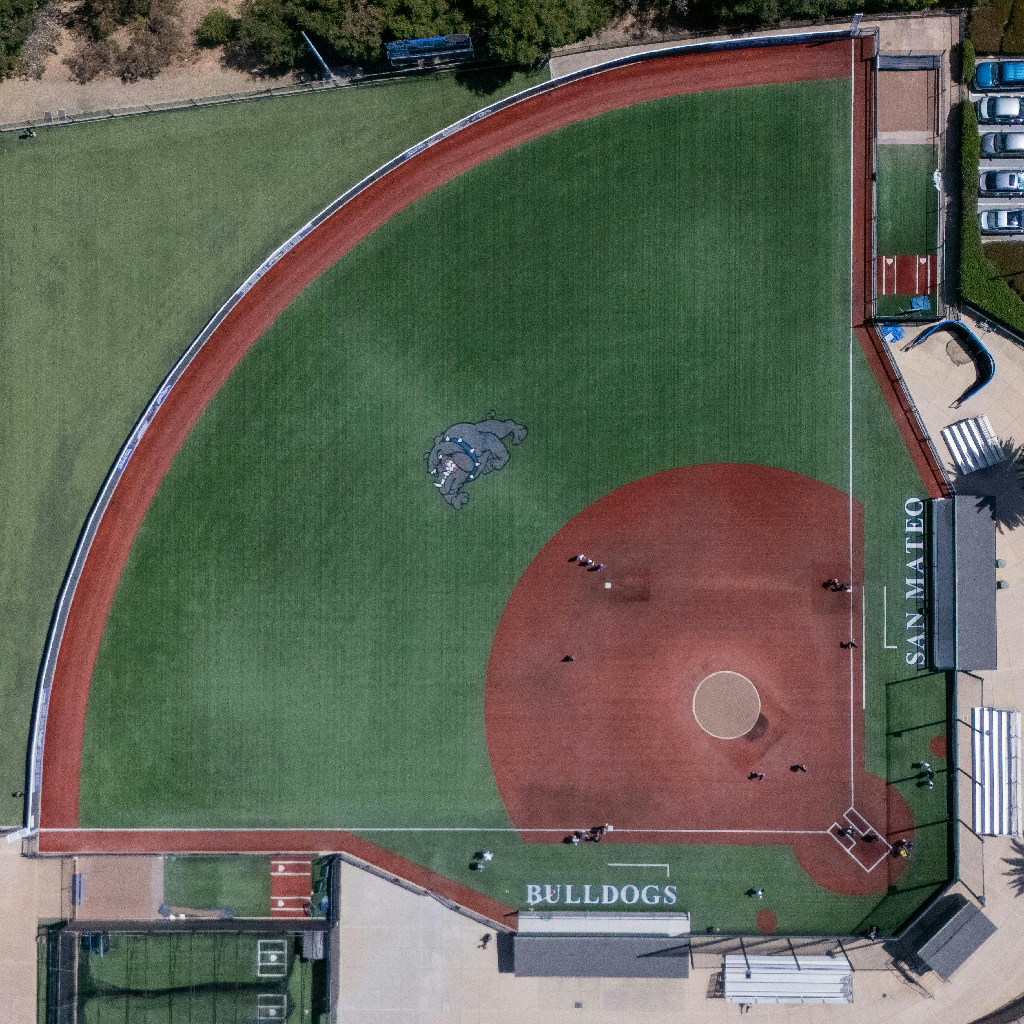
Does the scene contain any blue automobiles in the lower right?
No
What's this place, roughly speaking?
sports ground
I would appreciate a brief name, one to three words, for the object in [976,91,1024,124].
car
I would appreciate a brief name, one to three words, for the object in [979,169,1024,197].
car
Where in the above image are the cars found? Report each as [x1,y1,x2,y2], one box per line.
[974,56,1024,92]
[979,169,1024,197]
[976,91,1024,124]
[980,209,1024,236]
[979,127,1024,159]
